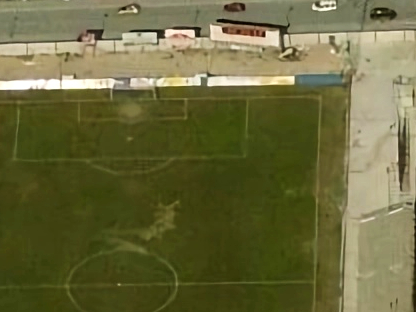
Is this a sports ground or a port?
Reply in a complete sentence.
The picture captures a sports ground.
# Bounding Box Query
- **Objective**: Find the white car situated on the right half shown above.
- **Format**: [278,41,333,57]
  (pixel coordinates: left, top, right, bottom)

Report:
[311,0,337,12]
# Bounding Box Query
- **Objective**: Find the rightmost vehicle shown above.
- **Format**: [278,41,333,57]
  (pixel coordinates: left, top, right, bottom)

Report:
[370,7,396,19]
